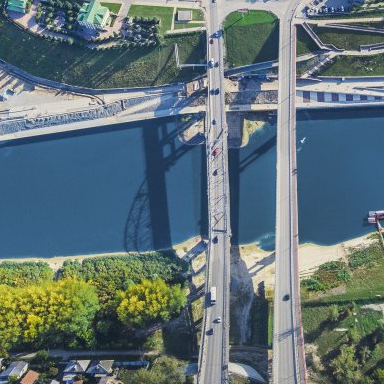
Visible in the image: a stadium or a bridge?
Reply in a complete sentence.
Looking from above, you can make out a bridge.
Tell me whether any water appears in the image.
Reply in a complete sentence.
Yes, water shows up in the scene.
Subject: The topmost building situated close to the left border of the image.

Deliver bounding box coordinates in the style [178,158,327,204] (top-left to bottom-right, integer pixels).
[4,0,31,17]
